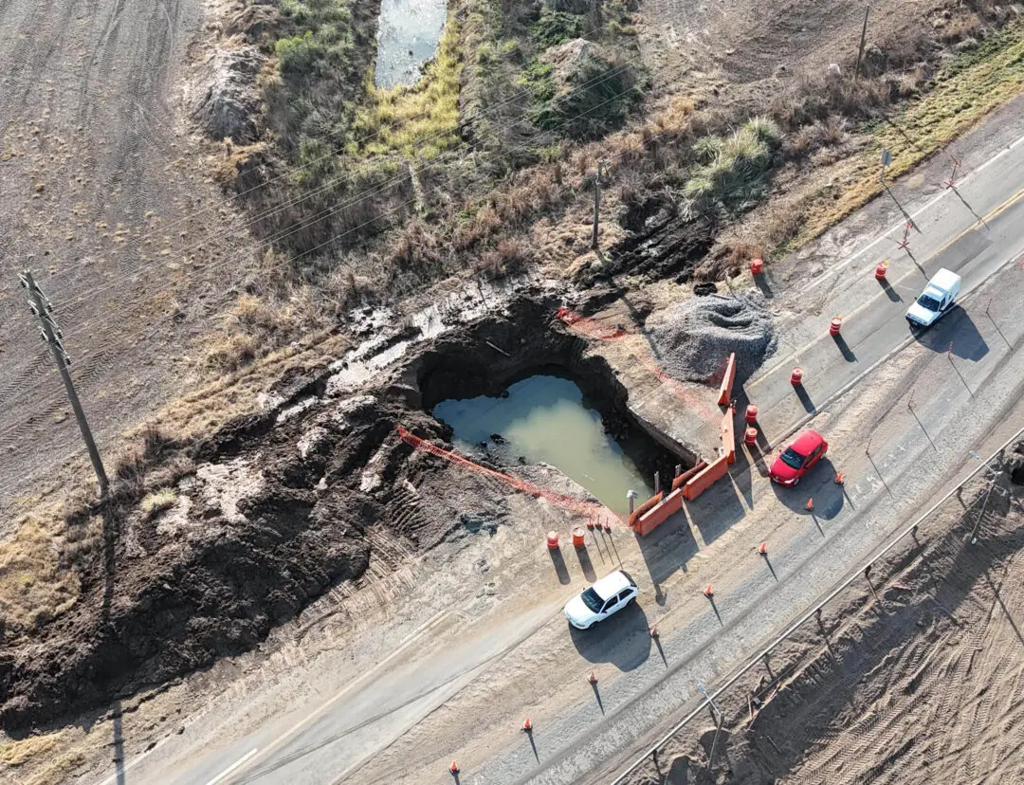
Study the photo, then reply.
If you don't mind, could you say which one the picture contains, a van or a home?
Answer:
van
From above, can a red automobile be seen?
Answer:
Yes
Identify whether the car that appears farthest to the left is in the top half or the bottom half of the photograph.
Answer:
bottom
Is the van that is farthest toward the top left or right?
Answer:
right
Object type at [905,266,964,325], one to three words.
van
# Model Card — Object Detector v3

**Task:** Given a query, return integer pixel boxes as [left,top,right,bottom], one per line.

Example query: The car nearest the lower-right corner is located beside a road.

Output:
[771,429,832,485]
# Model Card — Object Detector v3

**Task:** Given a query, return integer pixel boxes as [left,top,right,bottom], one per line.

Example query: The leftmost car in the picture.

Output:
[565,569,642,629]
